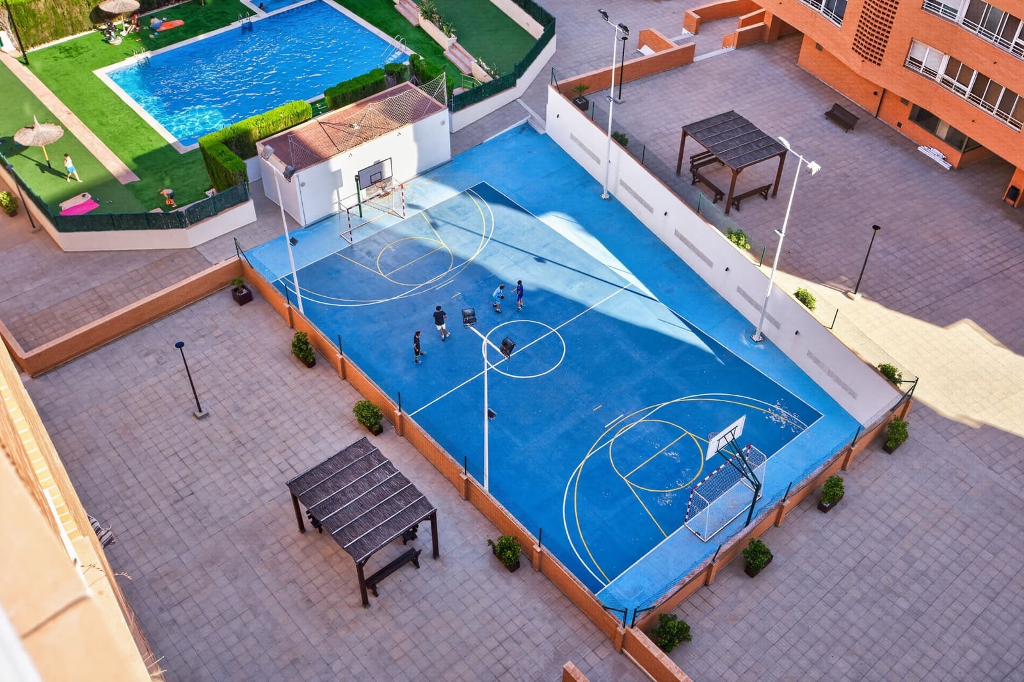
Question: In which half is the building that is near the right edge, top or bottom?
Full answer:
The top half of the photo is where the building that is near the right edge is.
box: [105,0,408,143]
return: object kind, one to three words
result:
swimming pool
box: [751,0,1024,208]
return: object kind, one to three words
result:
building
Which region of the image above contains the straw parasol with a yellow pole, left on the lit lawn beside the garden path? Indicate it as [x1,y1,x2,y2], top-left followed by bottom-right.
[10,117,64,168]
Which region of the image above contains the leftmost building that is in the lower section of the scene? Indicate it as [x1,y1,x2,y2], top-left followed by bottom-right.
[0,331,168,682]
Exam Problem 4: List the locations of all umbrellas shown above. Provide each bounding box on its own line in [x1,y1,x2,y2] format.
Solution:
[93,0,138,33]
[10,117,64,168]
